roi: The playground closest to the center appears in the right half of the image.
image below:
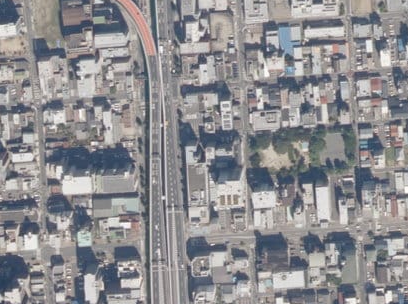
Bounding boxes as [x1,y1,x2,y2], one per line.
[261,144,292,168]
